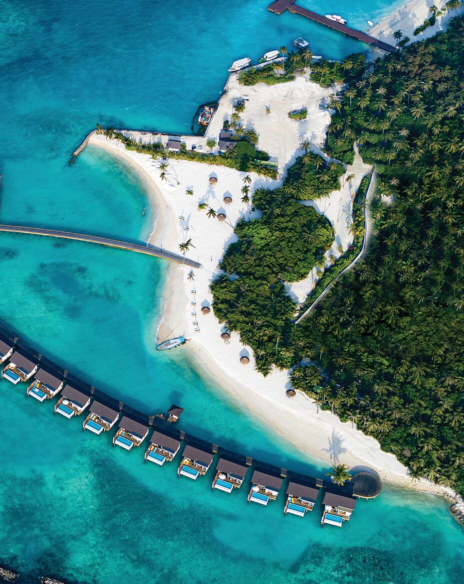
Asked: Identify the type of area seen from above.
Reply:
beach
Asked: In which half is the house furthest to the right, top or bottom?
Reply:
bottom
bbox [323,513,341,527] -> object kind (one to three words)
swimming pool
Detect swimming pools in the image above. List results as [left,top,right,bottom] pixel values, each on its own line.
[5,370,21,384]
[285,503,303,516]
[147,450,165,465]
[30,387,47,401]
[58,403,74,417]
[323,513,341,527]
[116,435,132,449]
[213,478,231,492]
[179,465,197,479]
[250,492,268,505]
[86,419,103,433]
